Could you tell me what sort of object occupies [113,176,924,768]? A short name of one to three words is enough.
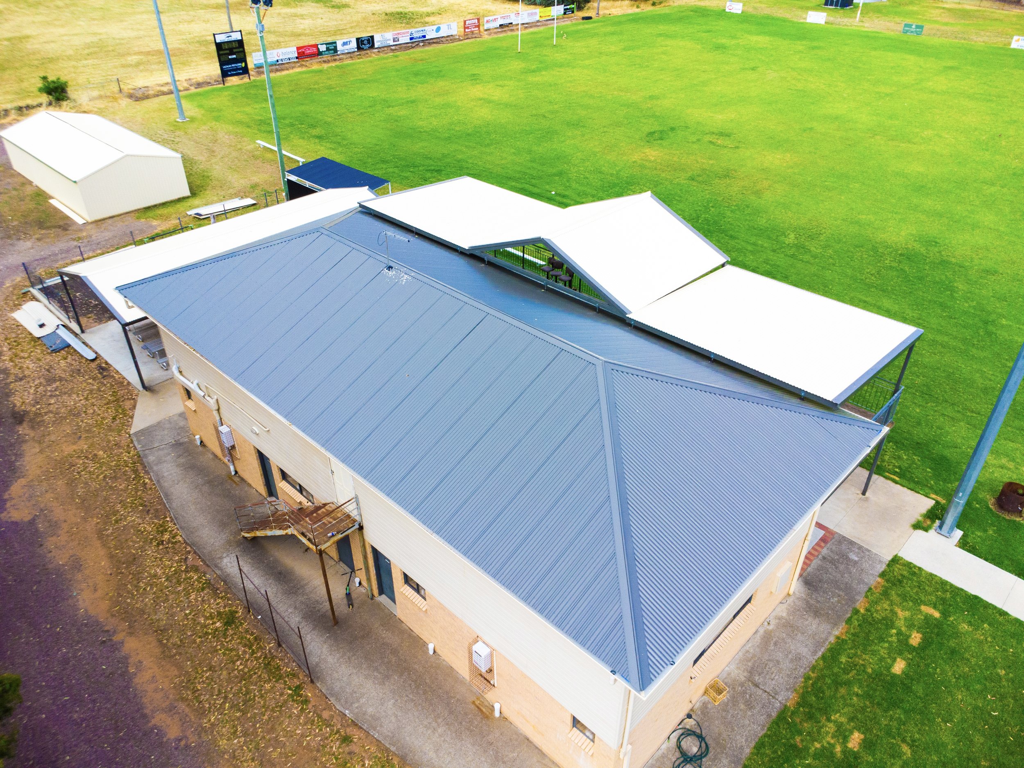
building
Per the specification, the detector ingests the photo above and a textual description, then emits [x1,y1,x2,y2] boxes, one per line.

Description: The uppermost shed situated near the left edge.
[0,112,192,221]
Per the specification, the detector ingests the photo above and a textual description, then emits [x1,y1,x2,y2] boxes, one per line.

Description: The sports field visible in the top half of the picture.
[179,7,1024,606]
